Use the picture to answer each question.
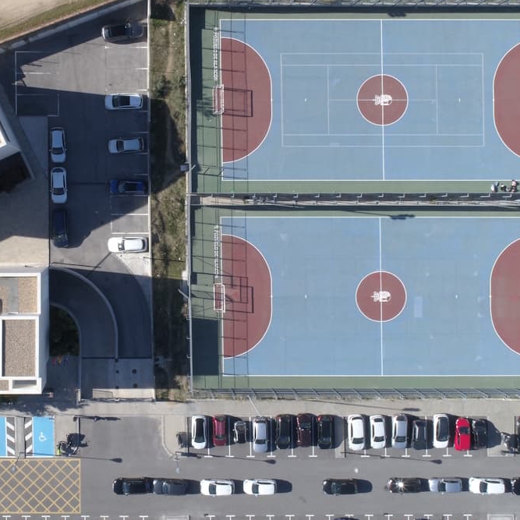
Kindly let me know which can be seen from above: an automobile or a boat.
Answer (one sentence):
This aerial view contains an automobile.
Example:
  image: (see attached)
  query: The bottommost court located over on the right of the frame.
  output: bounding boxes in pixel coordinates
[192,208,520,389]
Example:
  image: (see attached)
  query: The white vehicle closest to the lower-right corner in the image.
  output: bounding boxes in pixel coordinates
[467,477,506,497]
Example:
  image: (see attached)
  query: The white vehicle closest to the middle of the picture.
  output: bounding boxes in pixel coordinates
[108,236,148,254]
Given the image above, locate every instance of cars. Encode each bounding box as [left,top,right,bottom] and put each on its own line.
[347,414,365,450]
[105,92,142,111]
[48,127,67,164]
[51,208,69,247]
[153,478,188,497]
[470,417,489,448]
[316,414,335,448]
[296,412,313,447]
[212,414,228,446]
[452,416,472,451]
[467,477,506,497]
[252,415,270,452]
[242,478,276,497]
[274,413,292,449]
[108,136,146,155]
[233,419,247,443]
[369,414,388,448]
[108,236,148,254]
[114,477,151,496]
[190,414,208,449]
[410,418,429,449]
[431,412,451,448]
[391,414,409,448]
[199,478,234,497]
[49,166,67,205]
[427,477,462,495]
[510,477,520,494]
[323,477,358,497]
[387,477,423,495]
